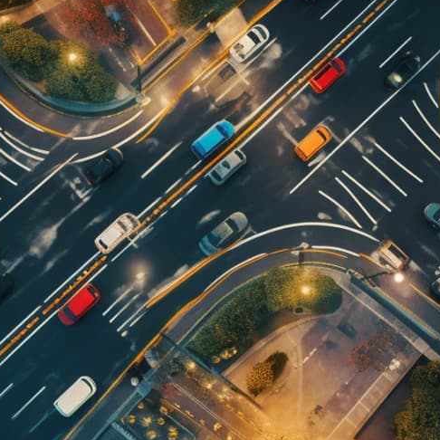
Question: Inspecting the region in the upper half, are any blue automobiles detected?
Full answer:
Yes, a blue automobile appears in the upper half.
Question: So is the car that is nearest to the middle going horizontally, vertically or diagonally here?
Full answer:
The car that is nearest to the middle has been laid out diagonally relative to the frame.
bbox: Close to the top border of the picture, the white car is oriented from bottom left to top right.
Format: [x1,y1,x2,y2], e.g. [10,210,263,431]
[227,21,273,64]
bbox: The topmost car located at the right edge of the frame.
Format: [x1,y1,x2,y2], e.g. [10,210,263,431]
[380,49,424,91]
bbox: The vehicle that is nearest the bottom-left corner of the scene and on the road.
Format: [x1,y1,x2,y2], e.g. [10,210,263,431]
[52,372,100,420]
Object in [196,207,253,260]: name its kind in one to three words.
car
